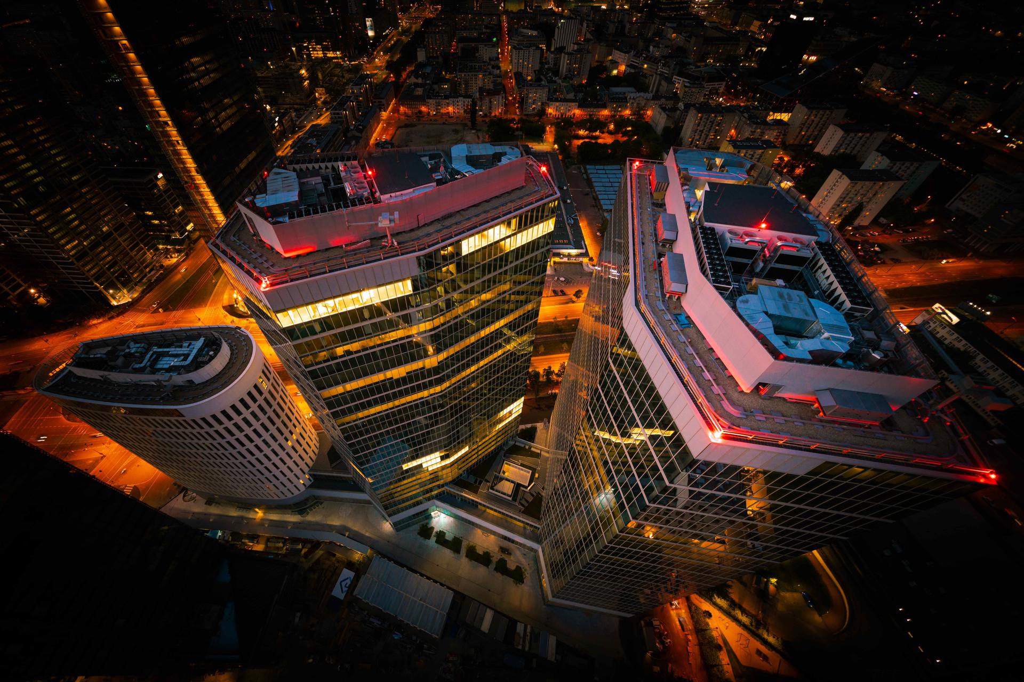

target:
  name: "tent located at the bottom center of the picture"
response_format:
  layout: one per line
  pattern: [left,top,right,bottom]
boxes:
[354,555,454,638]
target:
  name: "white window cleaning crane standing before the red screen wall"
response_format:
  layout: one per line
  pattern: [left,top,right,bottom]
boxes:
[346,203,404,247]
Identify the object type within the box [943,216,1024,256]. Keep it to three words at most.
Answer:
building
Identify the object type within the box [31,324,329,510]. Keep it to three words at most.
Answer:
building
